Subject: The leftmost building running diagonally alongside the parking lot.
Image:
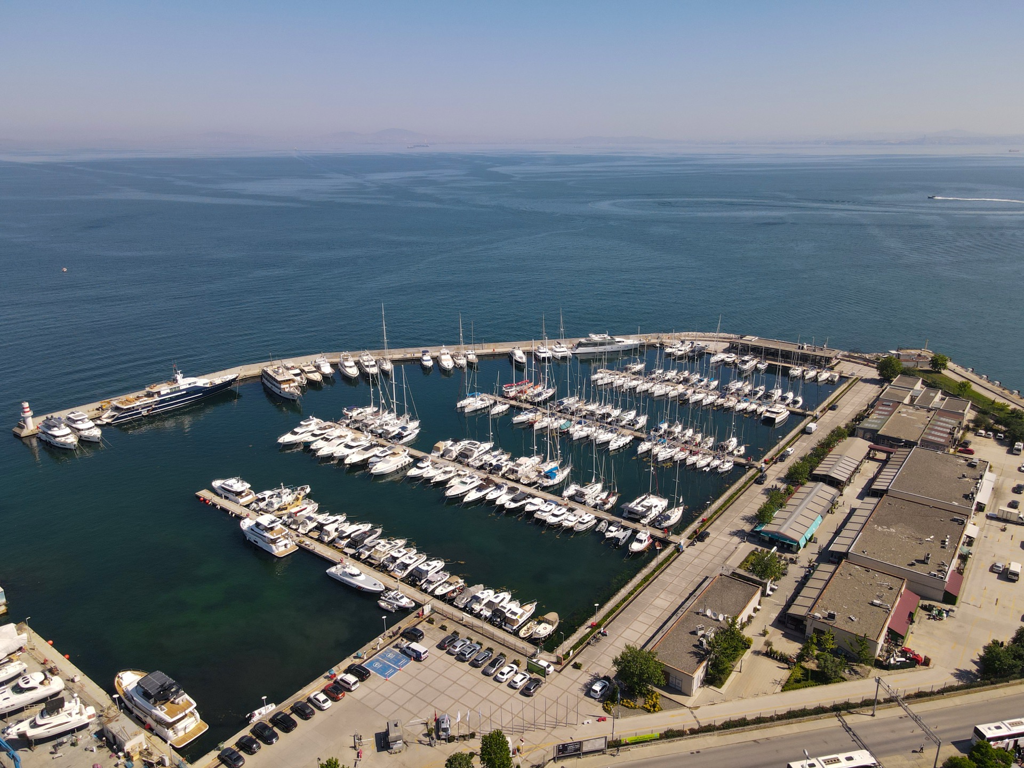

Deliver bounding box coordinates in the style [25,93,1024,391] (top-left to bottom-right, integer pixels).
[647,574,761,694]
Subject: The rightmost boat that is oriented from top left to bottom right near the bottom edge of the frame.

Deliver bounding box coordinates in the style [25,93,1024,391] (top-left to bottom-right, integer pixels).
[110,671,220,760]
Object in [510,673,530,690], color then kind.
white car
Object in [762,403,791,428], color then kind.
white boat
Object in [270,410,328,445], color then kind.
white boat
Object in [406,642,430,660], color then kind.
white vehicle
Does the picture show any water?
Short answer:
Yes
